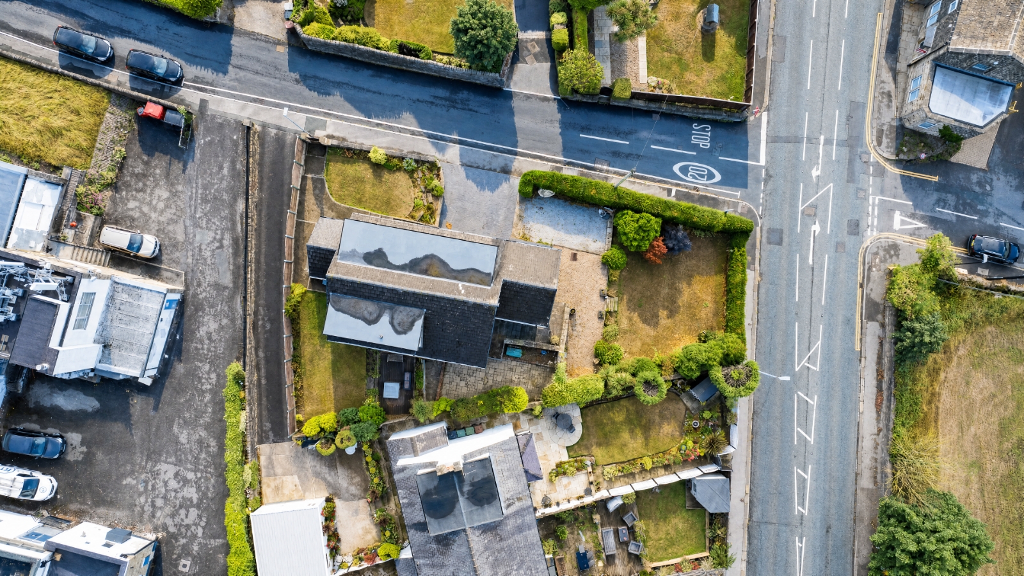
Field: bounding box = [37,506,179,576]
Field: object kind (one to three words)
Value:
building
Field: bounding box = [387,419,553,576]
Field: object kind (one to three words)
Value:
house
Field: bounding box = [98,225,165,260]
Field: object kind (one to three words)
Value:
car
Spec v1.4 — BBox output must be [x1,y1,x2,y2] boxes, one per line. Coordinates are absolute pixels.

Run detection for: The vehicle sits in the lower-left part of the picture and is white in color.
[0,461,64,501]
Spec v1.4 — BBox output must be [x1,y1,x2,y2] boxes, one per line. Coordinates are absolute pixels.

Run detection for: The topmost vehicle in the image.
[49,22,121,66]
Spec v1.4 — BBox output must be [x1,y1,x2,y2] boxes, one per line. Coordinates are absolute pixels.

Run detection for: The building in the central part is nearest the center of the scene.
[307,212,561,368]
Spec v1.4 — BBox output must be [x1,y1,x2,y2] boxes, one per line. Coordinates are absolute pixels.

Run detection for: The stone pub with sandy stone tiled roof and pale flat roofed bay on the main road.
[898,0,1024,137]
